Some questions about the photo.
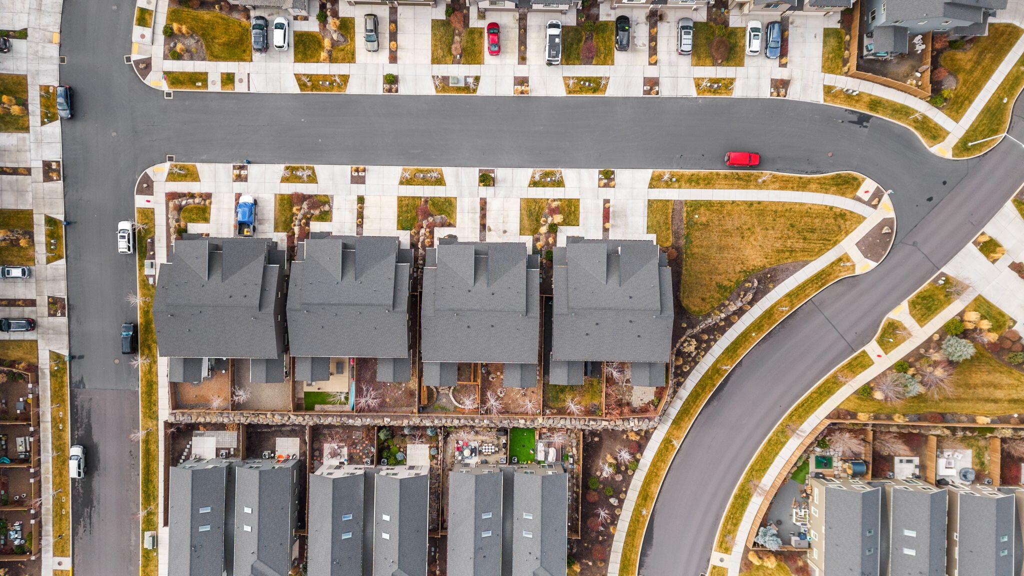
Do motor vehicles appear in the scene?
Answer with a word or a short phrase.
Yes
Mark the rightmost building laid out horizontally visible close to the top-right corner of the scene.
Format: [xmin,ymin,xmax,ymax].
[864,0,1006,58]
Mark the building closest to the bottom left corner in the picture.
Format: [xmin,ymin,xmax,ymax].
[167,457,299,576]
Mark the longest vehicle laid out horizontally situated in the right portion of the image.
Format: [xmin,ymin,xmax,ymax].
[725,151,761,168]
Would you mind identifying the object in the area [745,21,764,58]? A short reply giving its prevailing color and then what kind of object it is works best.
white car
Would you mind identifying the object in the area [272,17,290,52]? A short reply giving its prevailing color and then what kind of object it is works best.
white car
